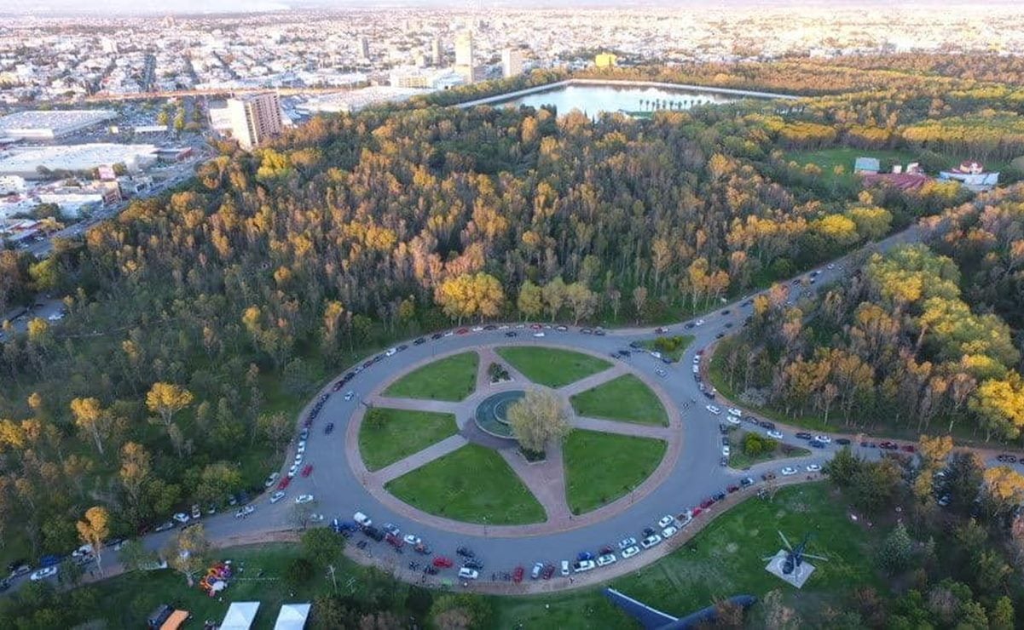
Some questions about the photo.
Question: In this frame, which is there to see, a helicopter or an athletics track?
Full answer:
Of the two, only a helicopter appears.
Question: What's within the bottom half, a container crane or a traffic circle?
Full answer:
The feature located within the bottom half is a traffic circle.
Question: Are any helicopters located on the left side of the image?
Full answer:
No, on the left side of the image there is no helicopter.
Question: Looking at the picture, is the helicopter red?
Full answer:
No, the color of the helicopter is blue.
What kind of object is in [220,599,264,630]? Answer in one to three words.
tent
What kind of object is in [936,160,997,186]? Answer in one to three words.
building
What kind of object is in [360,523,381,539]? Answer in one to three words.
vehicle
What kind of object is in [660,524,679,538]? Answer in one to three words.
car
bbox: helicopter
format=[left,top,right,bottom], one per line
[763,524,829,580]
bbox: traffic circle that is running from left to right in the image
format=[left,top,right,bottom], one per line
[246,315,810,582]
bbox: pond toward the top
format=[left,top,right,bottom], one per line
[441,77,798,118]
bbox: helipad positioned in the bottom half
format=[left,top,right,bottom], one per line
[767,548,816,588]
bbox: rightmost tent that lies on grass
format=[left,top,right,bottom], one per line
[274,600,312,630]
